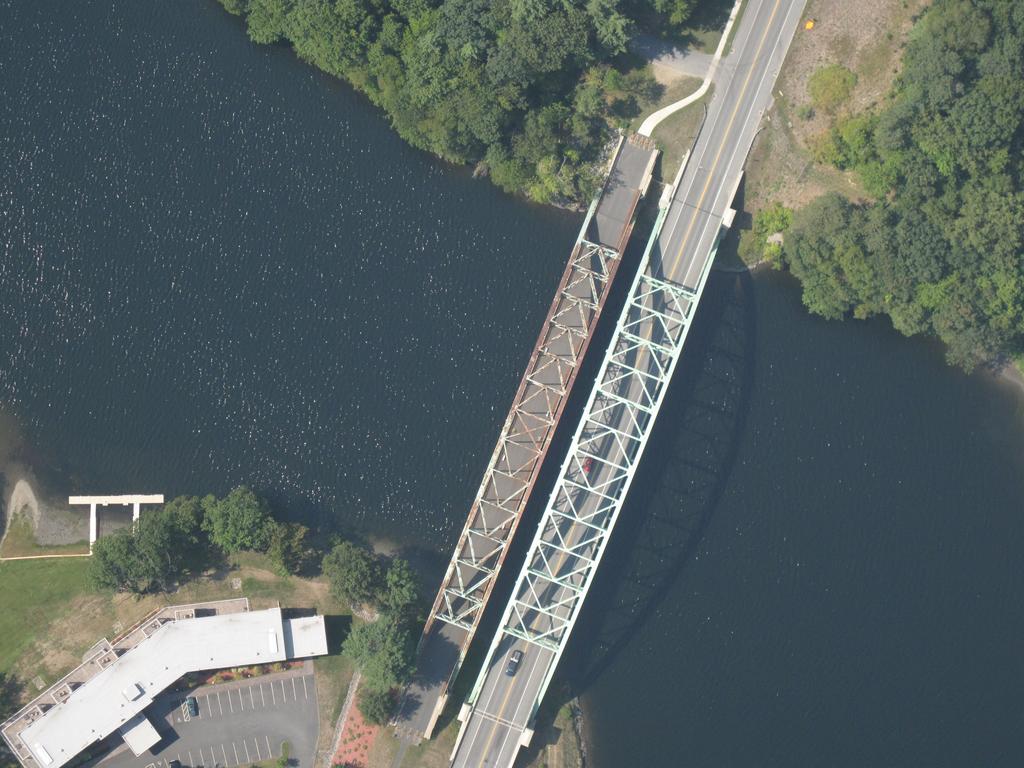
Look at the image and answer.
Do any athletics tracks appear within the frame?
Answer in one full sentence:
No, this view has no athletics track in it.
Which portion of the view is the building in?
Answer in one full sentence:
The building is in the bottom left part of the image.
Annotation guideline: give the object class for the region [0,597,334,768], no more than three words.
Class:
building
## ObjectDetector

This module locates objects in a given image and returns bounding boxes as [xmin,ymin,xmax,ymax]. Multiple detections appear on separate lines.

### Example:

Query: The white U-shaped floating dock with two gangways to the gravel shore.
[69,495,165,553]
